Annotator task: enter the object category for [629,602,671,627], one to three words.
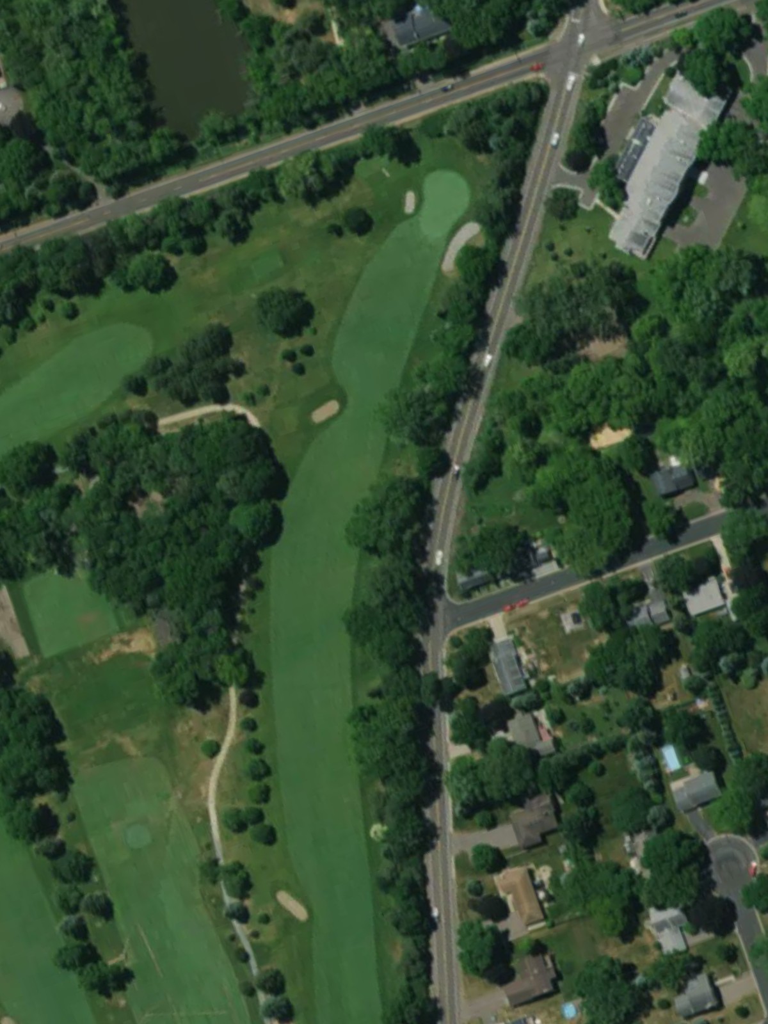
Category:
house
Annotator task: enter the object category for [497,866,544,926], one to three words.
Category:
house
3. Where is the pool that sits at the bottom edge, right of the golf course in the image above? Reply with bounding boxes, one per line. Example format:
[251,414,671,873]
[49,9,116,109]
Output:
[561,1003,577,1018]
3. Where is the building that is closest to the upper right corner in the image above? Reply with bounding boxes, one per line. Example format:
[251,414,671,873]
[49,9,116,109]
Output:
[611,72,728,259]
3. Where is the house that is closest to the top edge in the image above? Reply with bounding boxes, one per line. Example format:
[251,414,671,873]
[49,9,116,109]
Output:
[395,1,449,44]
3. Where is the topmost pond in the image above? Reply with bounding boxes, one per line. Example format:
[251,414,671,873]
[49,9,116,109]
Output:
[125,0,248,137]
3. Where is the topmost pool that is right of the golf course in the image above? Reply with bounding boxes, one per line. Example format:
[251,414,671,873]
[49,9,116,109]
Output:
[661,743,681,772]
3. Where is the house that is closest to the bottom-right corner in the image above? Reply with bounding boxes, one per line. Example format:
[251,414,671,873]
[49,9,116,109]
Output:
[676,974,717,1018]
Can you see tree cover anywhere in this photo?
Yes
